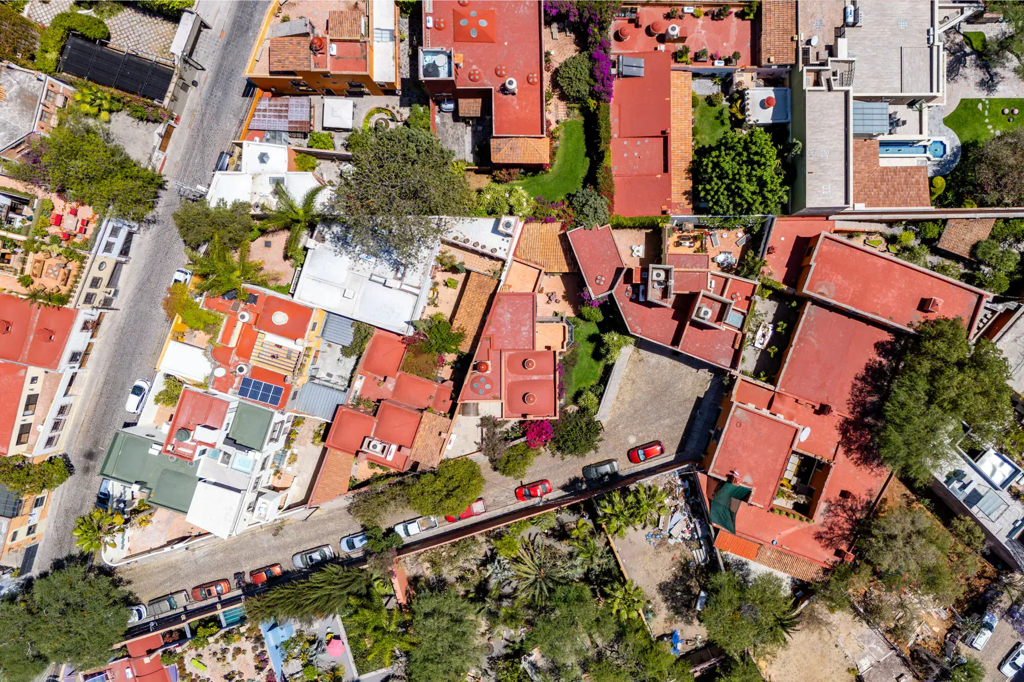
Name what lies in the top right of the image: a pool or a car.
pool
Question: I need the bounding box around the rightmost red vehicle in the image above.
[626,440,667,464]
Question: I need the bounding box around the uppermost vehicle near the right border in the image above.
[962,610,1001,655]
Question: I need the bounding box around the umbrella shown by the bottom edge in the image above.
[325,637,346,658]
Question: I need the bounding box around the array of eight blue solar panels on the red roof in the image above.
[238,376,284,406]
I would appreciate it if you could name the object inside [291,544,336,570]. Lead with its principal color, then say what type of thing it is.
gray car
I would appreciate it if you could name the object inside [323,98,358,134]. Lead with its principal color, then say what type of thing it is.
white gazebo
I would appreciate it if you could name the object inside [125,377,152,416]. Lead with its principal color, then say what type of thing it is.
white car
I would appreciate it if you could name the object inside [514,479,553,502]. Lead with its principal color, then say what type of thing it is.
red car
